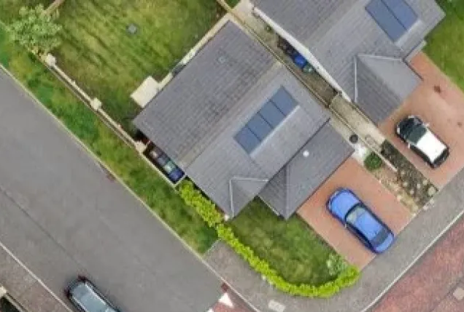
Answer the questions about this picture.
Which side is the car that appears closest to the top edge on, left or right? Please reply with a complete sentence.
The car that appears closest to the top edge sits on the right side.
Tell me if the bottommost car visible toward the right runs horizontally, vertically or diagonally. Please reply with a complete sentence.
What the image shows is the bottommost car visible toward the right lying diagonally.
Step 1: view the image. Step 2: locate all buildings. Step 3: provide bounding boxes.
[134,18,355,220]
[250,0,448,127]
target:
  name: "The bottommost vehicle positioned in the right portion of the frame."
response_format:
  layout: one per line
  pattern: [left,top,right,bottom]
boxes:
[327,184,396,257]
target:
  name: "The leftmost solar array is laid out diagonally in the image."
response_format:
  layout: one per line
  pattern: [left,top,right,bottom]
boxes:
[233,86,303,158]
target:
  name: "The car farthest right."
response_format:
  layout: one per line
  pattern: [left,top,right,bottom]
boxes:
[393,111,455,172]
